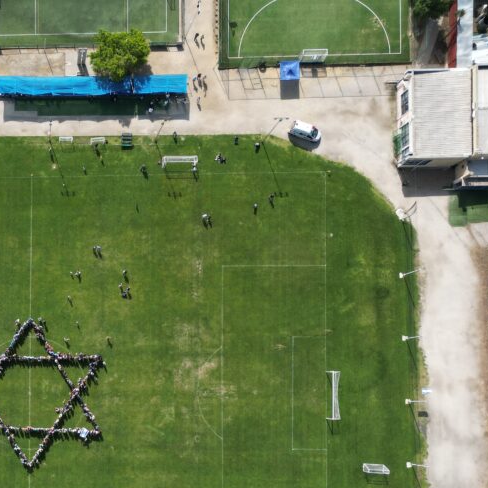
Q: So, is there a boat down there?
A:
No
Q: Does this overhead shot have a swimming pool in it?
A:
No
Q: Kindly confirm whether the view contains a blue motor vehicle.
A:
No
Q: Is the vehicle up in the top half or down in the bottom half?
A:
top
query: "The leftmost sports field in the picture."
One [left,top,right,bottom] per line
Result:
[0,0,182,46]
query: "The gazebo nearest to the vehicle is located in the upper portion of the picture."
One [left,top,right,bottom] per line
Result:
[275,61,300,87]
